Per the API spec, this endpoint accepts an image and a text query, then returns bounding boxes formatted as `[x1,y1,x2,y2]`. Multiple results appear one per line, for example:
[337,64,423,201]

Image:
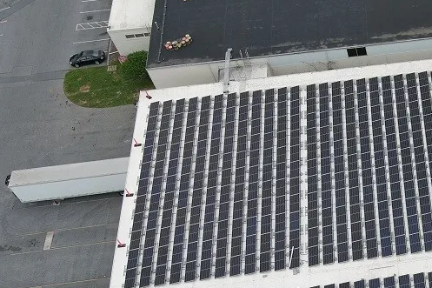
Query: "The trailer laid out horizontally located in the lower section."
[3,156,129,205]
